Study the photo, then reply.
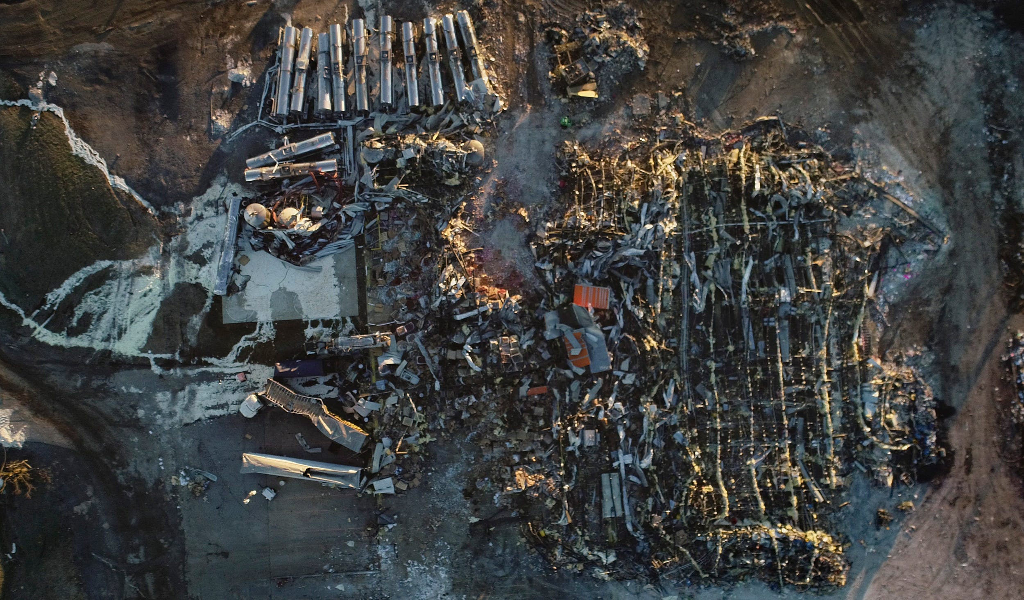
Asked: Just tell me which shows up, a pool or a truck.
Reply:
truck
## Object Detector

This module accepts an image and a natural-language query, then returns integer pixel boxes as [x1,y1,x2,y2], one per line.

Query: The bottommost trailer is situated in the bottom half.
[242,448,366,489]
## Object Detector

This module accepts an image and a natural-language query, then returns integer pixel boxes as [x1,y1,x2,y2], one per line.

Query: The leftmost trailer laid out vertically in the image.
[213,197,244,296]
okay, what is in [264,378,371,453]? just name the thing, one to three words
trailer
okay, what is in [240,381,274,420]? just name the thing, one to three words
truck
